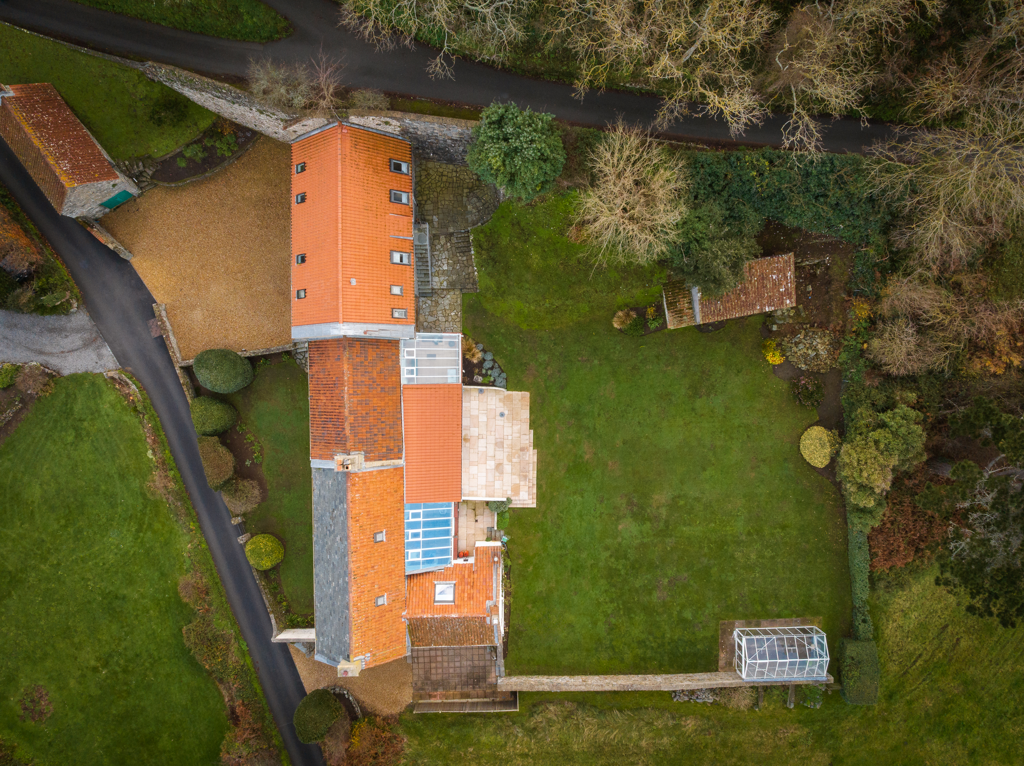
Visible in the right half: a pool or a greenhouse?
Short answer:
greenhouse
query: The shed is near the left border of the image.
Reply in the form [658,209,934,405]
[0,83,141,219]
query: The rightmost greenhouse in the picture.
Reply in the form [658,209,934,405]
[735,626,831,683]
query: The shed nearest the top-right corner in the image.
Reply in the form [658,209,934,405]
[661,252,796,328]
